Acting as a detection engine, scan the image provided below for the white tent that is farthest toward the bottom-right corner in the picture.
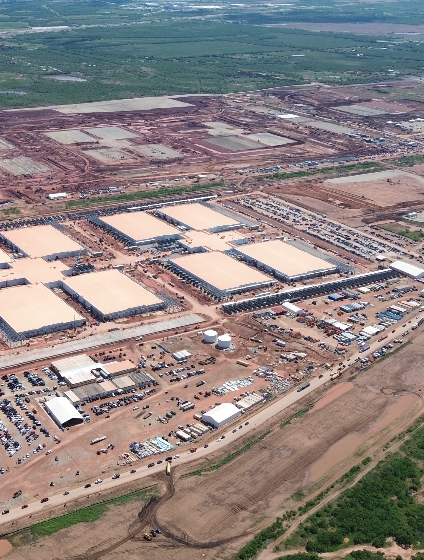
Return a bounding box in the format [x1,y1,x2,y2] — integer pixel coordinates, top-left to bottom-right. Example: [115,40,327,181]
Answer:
[203,403,240,431]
